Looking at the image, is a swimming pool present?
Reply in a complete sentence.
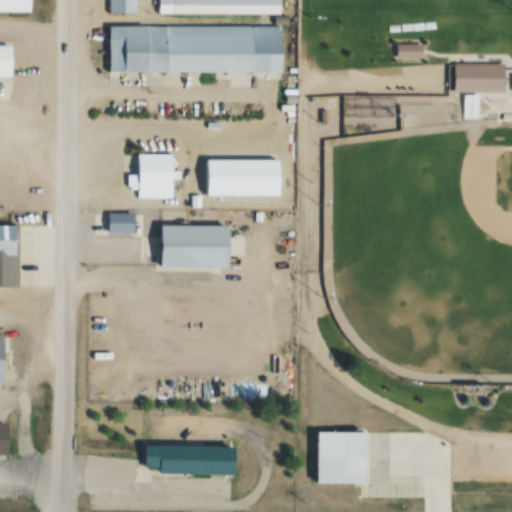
No, there appears to be no swimming pool in this shot.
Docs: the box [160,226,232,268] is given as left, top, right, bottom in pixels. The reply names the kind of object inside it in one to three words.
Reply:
shed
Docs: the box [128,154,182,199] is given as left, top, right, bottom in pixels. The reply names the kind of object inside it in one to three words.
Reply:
shed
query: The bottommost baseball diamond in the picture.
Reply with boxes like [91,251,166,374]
[323,121,512,383]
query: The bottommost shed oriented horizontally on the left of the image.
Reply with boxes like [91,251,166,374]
[145,442,237,474]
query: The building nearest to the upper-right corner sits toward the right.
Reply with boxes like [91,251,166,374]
[454,64,507,92]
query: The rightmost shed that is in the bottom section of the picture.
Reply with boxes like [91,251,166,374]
[316,429,368,486]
